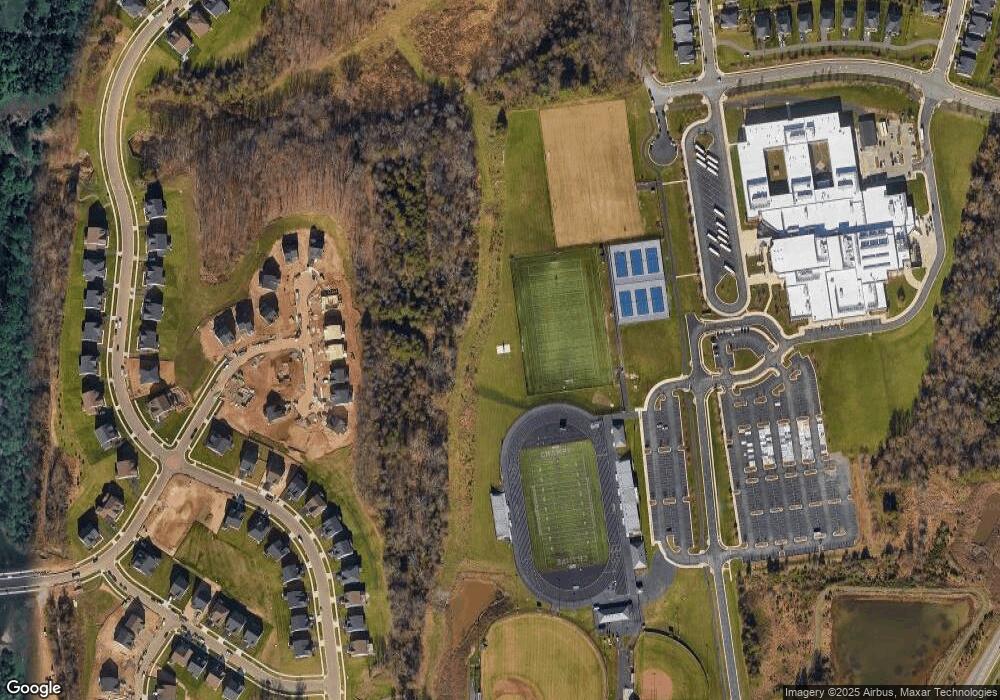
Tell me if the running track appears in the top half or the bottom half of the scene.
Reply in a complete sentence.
You can find the running track in the bottom half.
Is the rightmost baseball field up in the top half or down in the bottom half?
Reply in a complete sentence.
It is in the bottom half that the rightmost baseball field appears.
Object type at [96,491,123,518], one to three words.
house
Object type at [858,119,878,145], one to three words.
shed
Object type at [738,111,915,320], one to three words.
building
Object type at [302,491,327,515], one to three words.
house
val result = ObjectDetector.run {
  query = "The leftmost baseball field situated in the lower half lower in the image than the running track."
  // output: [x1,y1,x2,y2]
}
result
[476,613,611,700]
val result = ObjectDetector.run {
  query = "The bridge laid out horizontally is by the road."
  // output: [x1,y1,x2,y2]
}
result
[0,569,49,594]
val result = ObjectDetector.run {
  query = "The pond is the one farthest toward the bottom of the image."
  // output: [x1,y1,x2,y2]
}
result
[831,597,969,700]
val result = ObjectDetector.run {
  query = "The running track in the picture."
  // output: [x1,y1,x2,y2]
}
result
[505,404,627,609]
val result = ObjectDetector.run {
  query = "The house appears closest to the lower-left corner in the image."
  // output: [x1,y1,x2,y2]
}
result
[99,672,119,690]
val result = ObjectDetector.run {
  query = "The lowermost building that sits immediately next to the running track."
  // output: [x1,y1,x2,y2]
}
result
[596,603,631,624]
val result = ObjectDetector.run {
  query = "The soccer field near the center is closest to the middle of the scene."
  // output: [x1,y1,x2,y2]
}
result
[512,247,614,394]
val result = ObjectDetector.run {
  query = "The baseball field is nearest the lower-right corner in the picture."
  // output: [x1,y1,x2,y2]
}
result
[634,630,708,700]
